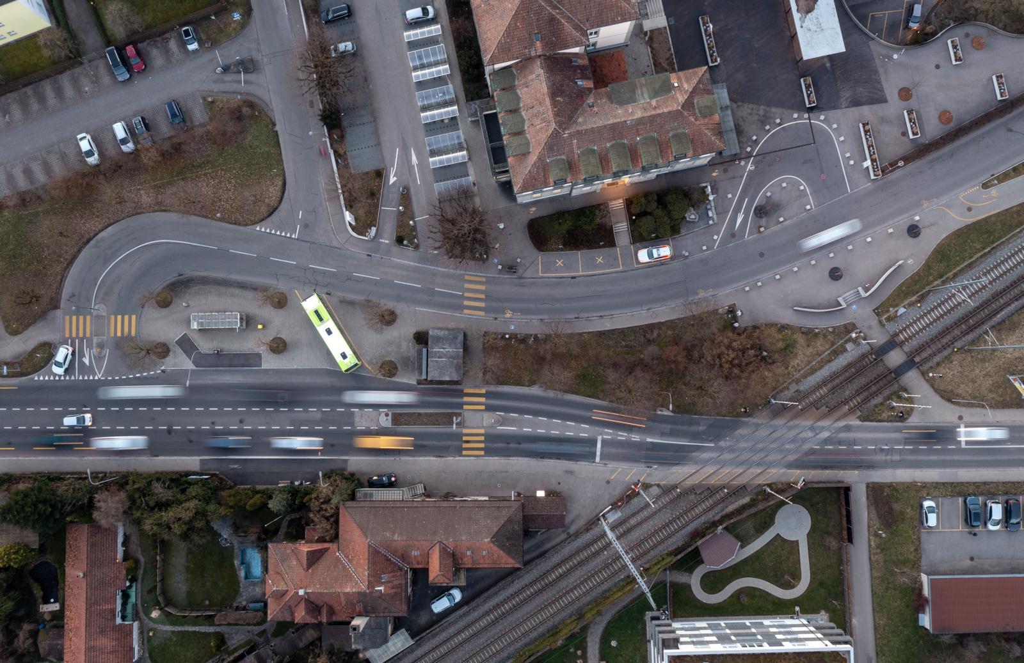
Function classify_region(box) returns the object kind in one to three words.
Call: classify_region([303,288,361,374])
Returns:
bus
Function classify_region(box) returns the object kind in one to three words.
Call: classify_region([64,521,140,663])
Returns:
house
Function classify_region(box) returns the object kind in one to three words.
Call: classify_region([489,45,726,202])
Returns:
building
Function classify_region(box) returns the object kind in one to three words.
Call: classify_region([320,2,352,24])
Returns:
car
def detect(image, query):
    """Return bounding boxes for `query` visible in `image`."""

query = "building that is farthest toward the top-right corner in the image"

[781,0,845,72]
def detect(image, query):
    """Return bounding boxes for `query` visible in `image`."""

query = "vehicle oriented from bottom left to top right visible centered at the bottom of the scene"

[430,586,462,614]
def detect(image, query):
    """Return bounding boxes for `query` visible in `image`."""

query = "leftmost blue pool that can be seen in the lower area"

[239,549,261,581]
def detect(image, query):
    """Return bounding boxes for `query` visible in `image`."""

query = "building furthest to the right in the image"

[915,570,1024,634]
